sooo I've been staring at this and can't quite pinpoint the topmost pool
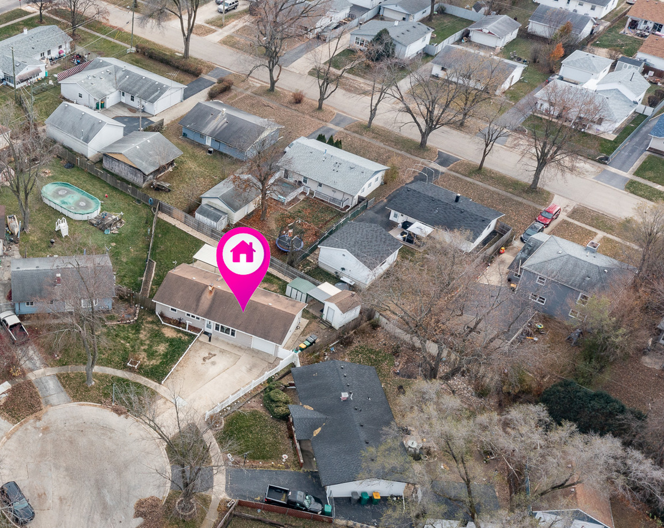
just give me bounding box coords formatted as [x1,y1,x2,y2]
[42,185,101,218]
